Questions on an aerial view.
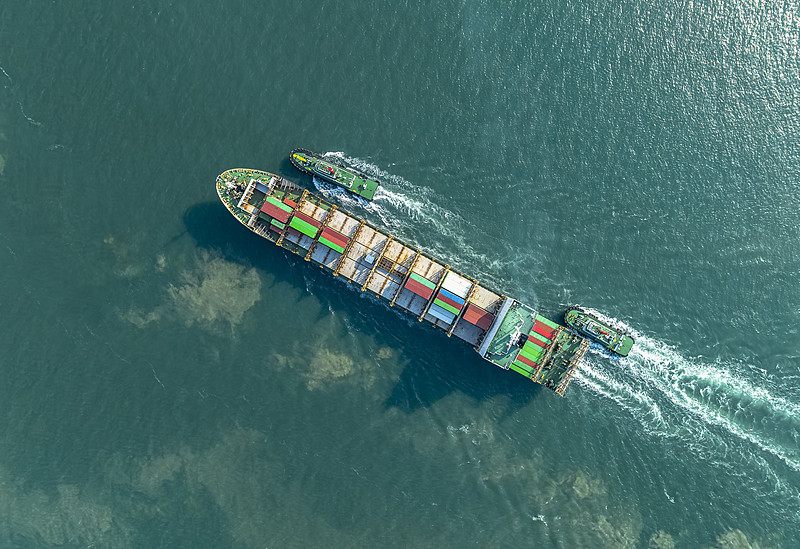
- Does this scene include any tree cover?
No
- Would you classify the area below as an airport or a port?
port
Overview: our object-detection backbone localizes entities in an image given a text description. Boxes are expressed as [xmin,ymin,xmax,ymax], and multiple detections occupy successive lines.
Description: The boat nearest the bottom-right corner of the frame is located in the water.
[565,309,634,356]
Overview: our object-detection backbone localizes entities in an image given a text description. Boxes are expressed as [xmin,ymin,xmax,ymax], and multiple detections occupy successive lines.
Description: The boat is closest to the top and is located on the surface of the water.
[289,149,380,201]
